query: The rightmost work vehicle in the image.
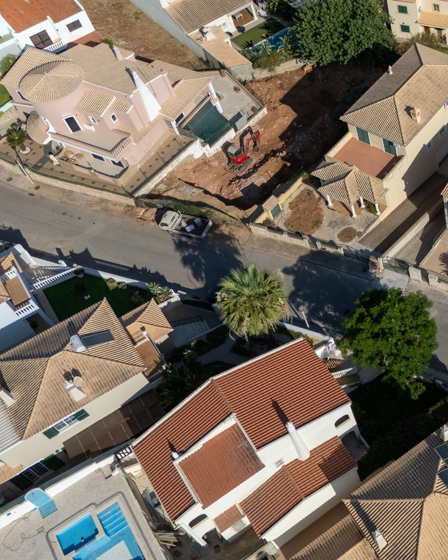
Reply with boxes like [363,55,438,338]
[226,141,261,179]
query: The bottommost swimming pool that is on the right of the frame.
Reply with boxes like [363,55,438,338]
[247,27,300,57]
